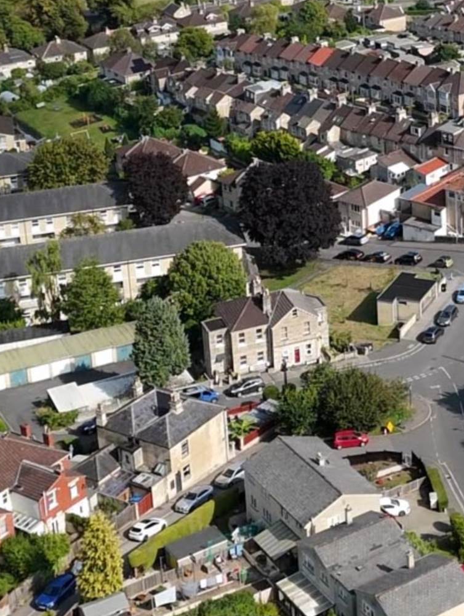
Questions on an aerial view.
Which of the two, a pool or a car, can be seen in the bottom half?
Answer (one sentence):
Visible in the bottom half is a car.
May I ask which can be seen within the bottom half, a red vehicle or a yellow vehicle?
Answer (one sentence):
You can see a red vehicle within the bottom half.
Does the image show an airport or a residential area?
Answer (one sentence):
This image shows a residential area.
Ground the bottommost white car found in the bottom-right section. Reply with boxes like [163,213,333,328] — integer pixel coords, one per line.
[381,493,414,517]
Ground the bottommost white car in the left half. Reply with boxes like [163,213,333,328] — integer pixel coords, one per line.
[127,514,169,541]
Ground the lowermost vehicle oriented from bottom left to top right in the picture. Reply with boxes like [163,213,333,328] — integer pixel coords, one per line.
[35,571,77,607]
